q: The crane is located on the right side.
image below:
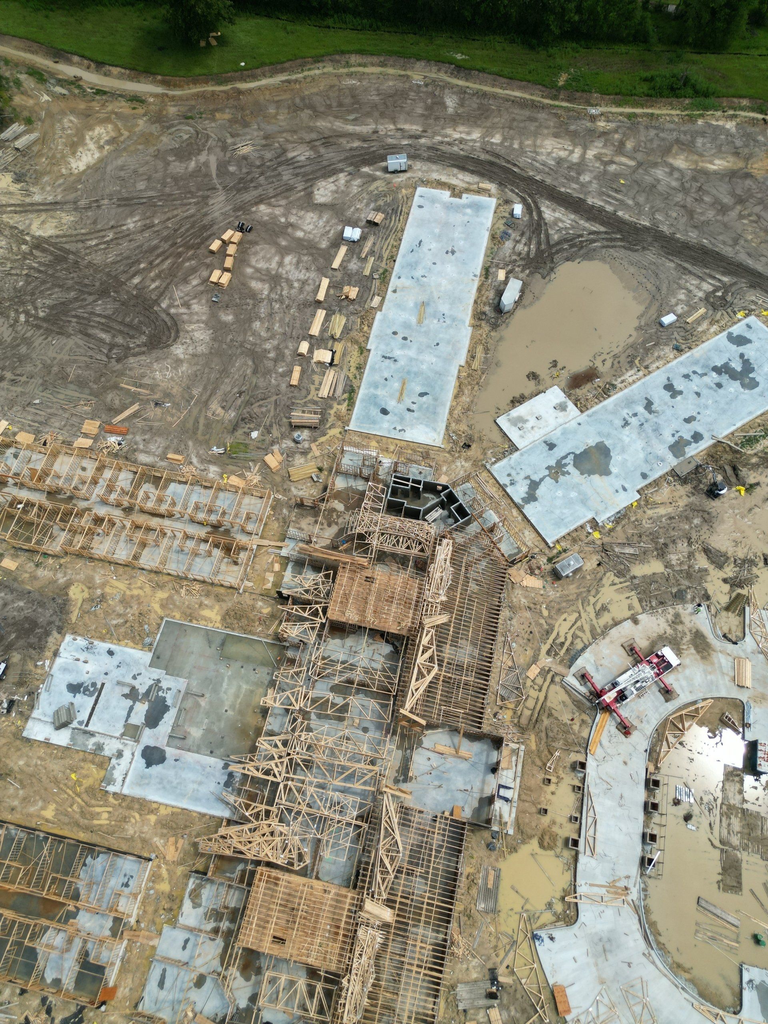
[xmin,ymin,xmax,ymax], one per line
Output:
[576,639,688,730]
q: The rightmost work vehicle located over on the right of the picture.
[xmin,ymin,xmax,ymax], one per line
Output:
[697,463,726,499]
